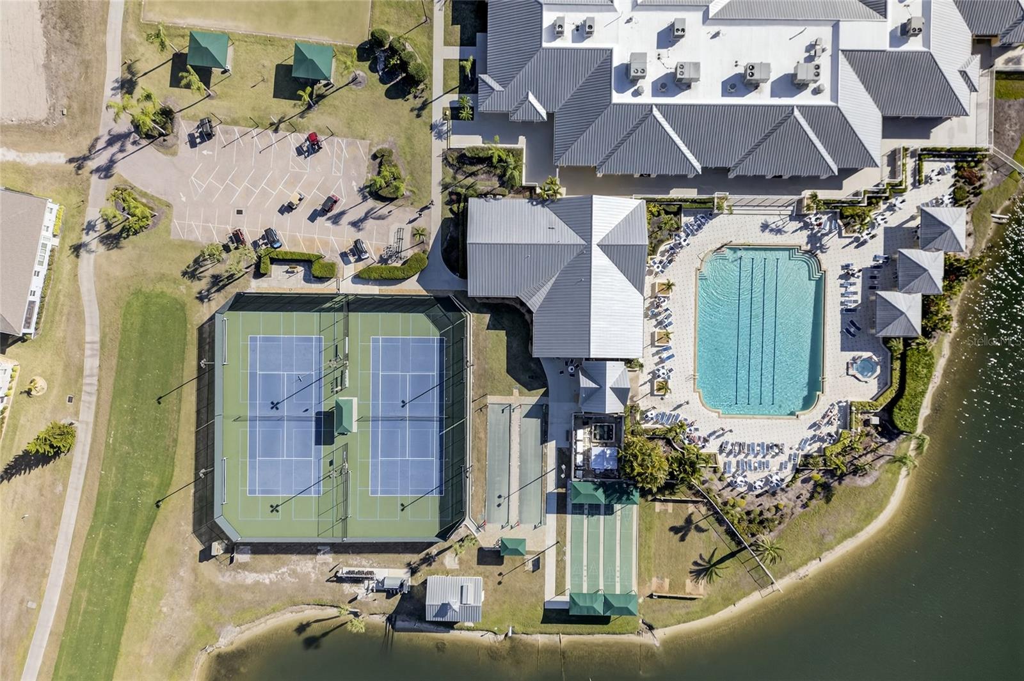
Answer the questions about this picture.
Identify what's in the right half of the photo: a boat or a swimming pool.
swimming pool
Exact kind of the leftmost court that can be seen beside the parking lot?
tennis court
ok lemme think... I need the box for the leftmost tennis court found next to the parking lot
[223,294,348,537]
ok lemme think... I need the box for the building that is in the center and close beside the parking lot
[468,195,648,358]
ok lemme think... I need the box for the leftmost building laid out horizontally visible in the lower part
[340,568,410,593]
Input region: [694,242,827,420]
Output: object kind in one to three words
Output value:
swimming pool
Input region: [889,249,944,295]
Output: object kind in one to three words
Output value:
building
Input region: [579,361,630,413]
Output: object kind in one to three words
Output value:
building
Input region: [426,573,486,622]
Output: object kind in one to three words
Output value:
shed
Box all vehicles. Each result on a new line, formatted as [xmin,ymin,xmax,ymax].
[351,236,367,256]
[196,119,213,137]
[228,228,244,245]
[319,194,337,210]
[261,226,279,246]
[305,133,320,150]
[286,191,303,208]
